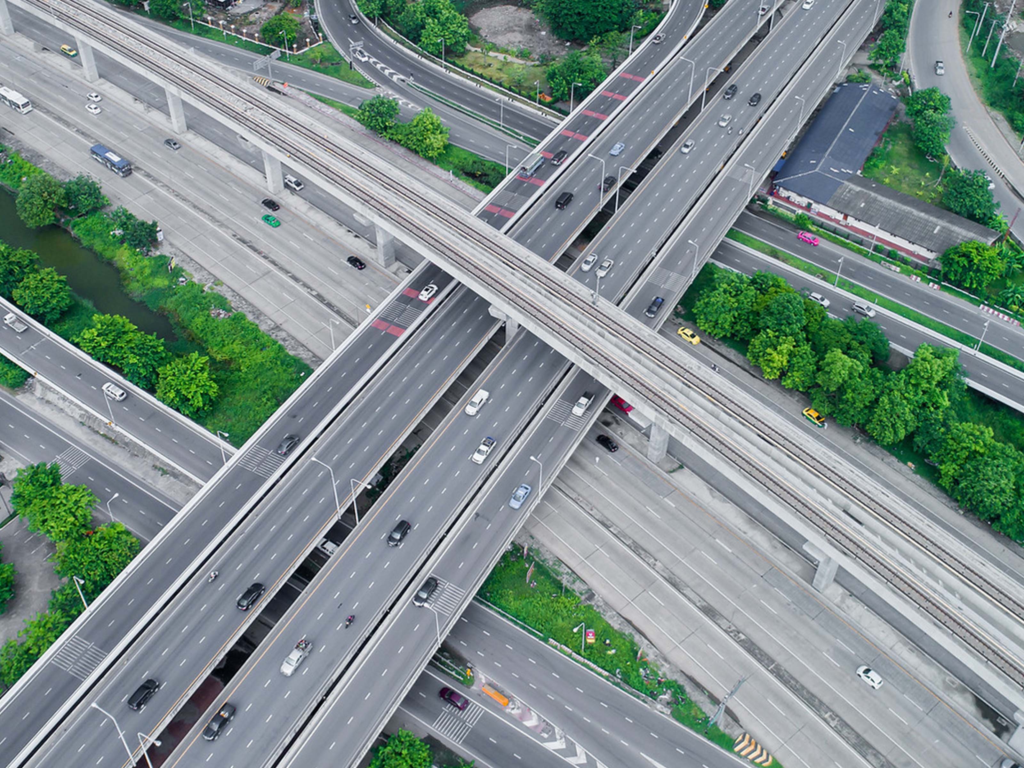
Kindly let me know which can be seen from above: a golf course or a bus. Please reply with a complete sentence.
The one in the frame is a bus.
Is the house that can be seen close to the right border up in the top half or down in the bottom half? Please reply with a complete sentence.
The top half of the photo is where the house that can be seen close to the right border is.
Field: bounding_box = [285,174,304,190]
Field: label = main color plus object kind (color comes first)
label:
white vehicle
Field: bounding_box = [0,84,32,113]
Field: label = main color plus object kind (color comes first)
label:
white bus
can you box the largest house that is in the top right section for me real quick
[770,84,1019,272]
